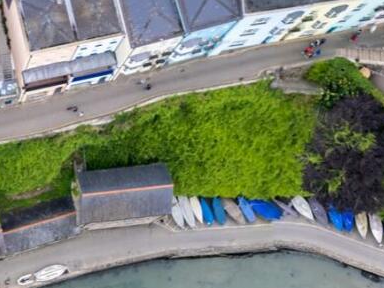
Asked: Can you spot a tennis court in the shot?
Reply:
No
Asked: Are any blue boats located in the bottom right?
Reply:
Yes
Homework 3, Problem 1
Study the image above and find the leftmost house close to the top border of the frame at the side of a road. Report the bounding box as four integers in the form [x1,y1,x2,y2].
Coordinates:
[8,0,77,99]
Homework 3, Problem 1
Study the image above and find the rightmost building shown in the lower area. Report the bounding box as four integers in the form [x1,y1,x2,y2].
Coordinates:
[79,162,178,233]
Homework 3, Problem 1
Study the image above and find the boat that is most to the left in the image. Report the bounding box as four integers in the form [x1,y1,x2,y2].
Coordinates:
[18,273,35,285]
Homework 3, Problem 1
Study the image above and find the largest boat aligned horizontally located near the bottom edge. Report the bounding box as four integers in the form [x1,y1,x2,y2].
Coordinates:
[34,262,70,281]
